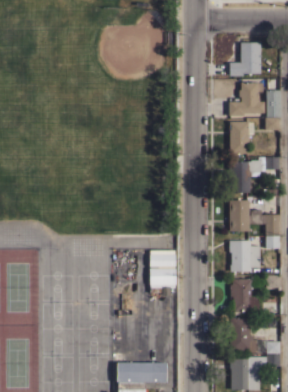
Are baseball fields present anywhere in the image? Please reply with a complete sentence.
Yes, looking at the shot, I can spot a baseball field.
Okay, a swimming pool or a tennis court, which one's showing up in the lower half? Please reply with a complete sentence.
The one visible in the lower half is a tennis court.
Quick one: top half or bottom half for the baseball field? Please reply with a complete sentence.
Seen from above, the baseball field lies in the top half of the view.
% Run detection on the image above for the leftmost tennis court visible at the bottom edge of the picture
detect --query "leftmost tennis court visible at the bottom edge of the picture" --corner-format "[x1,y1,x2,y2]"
[4,338,32,389]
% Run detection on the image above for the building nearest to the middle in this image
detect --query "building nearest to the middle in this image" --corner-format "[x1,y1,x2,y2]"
[150,250,176,268]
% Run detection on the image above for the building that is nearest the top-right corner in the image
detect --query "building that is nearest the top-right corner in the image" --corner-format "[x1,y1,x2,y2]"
[230,42,262,76]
